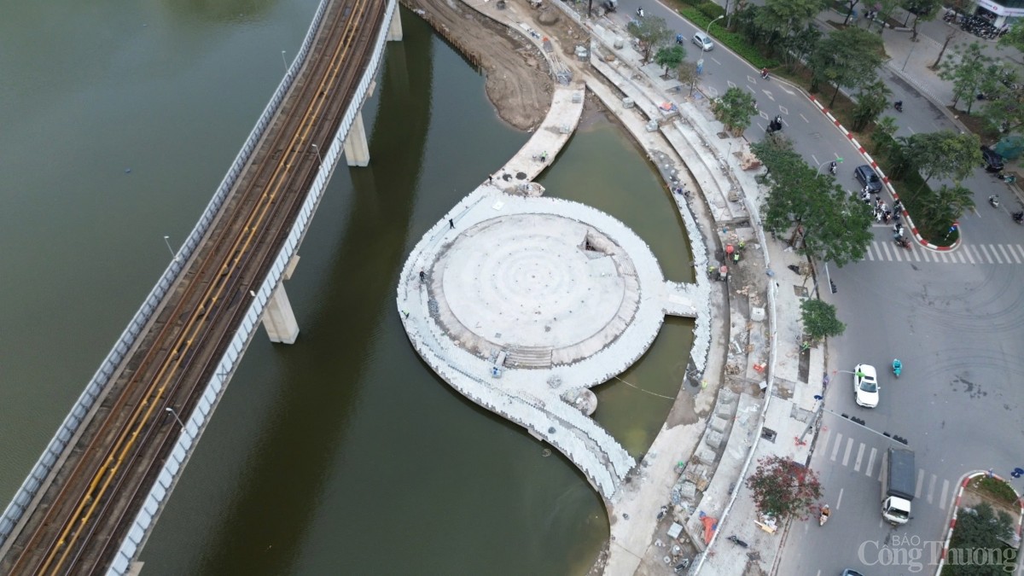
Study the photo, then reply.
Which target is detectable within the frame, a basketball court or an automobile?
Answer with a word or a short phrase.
automobile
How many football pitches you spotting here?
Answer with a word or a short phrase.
none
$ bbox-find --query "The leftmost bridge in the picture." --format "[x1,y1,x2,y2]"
[0,0,401,576]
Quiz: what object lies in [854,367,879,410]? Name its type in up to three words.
car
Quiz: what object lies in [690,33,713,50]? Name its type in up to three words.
car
